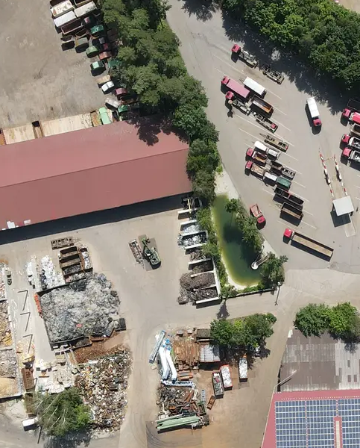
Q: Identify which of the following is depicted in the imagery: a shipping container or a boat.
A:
shipping container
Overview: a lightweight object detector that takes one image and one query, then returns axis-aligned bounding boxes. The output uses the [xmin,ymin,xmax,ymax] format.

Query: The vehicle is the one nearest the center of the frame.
[143,237,161,264]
